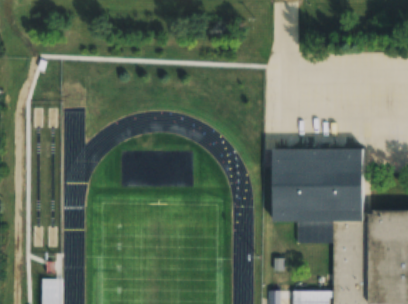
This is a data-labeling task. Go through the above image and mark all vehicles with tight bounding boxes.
[324,122,329,137]
[314,118,320,134]
[298,120,304,136]
[331,122,338,136]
